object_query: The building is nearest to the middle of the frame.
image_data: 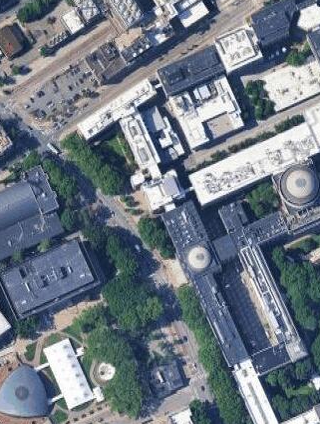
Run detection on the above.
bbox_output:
[131,169,185,212]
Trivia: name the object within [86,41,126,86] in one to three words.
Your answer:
building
